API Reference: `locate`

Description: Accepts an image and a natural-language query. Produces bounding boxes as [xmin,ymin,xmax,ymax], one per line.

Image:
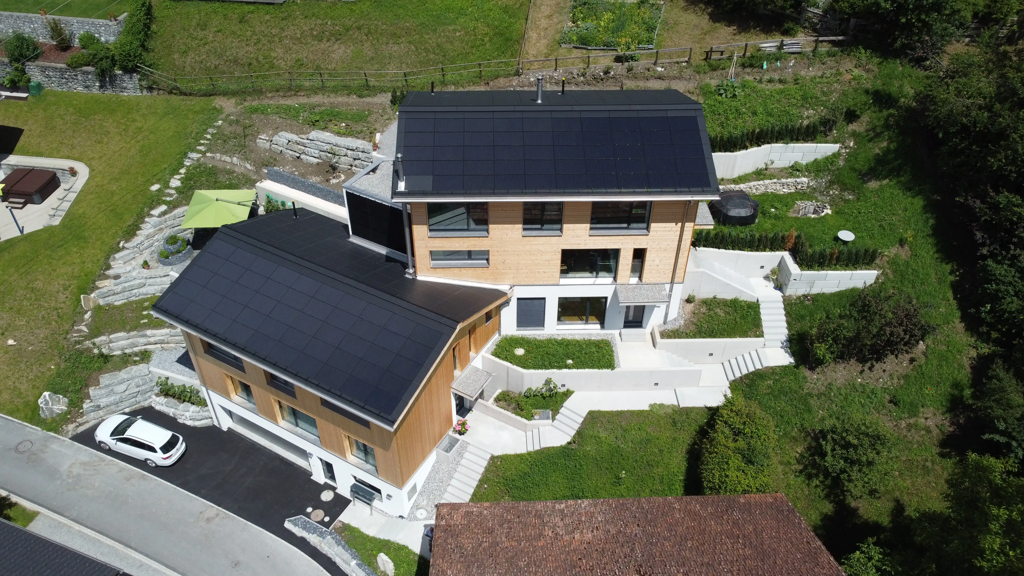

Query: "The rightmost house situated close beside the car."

[148,201,511,520]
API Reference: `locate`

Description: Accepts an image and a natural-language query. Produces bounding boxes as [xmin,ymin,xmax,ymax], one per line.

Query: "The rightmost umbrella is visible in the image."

[181,162,261,228]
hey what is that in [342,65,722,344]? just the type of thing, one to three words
house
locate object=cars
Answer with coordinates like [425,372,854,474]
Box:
[89,409,188,470]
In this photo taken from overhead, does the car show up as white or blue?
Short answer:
white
